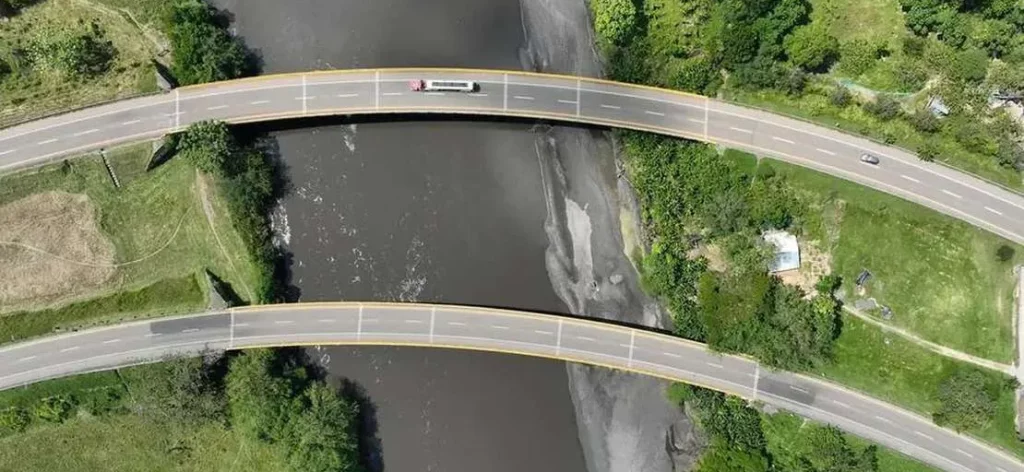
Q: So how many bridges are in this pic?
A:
2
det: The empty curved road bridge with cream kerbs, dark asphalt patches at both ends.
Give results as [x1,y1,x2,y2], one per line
[206,273,781,418]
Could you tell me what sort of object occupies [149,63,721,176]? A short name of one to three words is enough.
bridge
